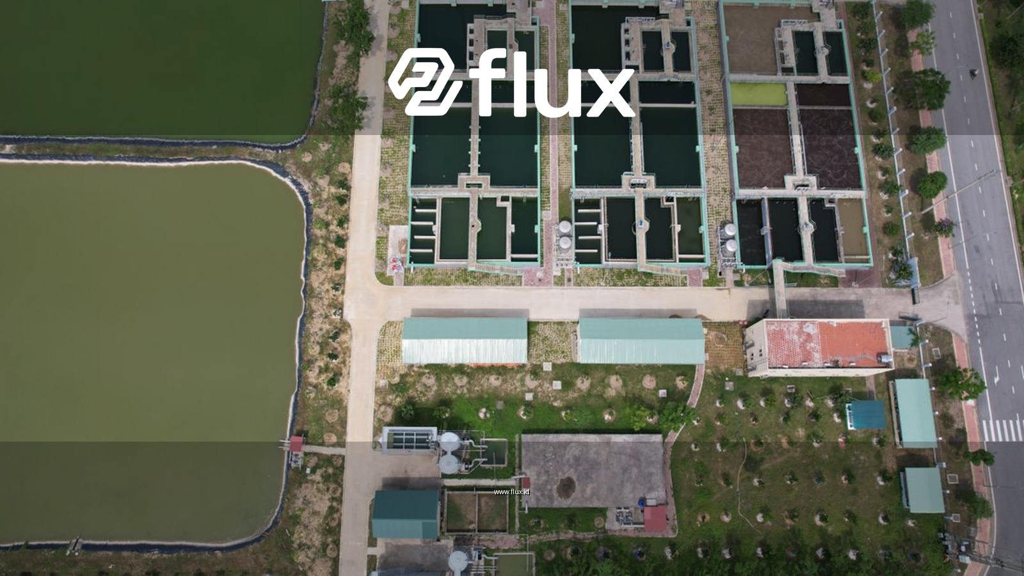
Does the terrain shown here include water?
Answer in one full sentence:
Yes, some water is visible.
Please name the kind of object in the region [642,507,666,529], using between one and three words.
building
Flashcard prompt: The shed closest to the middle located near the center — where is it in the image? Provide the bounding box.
[402,318,527,365]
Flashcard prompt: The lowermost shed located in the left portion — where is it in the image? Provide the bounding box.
[372,490,440,538]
